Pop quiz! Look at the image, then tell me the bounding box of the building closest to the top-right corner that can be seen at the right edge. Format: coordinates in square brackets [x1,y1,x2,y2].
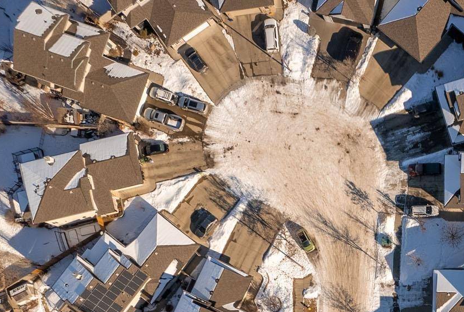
[372,0,464,66]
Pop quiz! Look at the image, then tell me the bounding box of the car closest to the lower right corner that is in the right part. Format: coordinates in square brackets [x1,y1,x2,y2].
[410,202,439,217]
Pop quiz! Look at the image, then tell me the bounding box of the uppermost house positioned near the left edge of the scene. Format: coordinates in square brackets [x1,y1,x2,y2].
[10,1,153,124]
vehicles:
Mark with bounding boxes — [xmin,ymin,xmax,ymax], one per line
[408,160,441,177]
[260,16,279,53]
[183,44,209,73]
[141,104,186,133]
[177,94,207,114]
[189,209,217,234]
[343,28,361,60]
[142,138,169,155]
[148,85,178,108]
[410,202,439,217]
